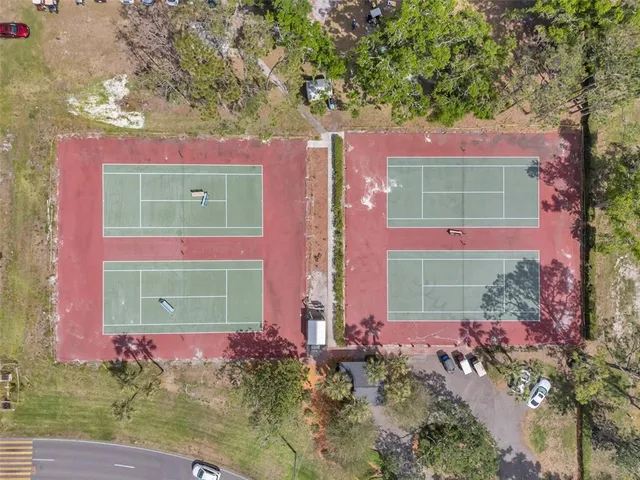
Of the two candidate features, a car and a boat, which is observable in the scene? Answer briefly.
car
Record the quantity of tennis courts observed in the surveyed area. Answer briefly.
4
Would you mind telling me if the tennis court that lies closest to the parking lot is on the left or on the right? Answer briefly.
right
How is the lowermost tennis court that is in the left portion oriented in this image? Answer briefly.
from side to side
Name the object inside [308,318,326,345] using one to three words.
shed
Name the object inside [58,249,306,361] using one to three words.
tennis court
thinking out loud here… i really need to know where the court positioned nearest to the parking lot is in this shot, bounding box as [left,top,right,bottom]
[345,239,582,345]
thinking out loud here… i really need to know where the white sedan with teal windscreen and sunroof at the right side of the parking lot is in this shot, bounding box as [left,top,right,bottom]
[527,379,553,411]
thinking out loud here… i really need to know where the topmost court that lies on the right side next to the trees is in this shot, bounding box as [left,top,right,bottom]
[345,129,582,239]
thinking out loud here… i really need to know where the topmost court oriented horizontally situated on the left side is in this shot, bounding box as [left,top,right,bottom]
[58,138,306,249]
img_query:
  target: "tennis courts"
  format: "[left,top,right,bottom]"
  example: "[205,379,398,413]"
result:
[58,138,306,249]
[58,249,306,361]
[345,239,582,345]
[345,129,582,239]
